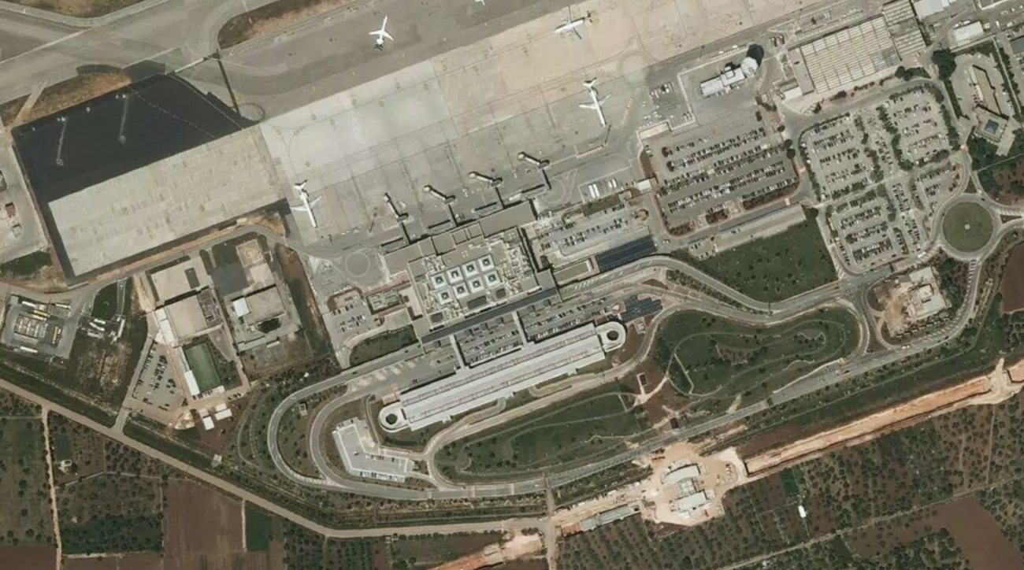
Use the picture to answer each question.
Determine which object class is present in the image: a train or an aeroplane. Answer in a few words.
aeroplane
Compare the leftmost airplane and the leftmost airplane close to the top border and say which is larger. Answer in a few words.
the leftmost airplane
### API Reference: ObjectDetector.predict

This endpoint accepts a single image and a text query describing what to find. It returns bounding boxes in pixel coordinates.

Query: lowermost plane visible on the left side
[289,179,322,227]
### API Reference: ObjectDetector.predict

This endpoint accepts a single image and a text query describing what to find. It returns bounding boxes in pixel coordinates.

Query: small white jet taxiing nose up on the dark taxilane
[369,16,394,47]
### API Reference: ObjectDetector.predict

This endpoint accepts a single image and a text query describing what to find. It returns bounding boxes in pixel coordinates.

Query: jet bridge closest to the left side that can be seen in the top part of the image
[383,193,411,244]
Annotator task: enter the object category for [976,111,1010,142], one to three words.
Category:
building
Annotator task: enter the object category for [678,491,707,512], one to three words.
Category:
building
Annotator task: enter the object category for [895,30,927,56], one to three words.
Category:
shed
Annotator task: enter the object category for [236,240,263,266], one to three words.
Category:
helipad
